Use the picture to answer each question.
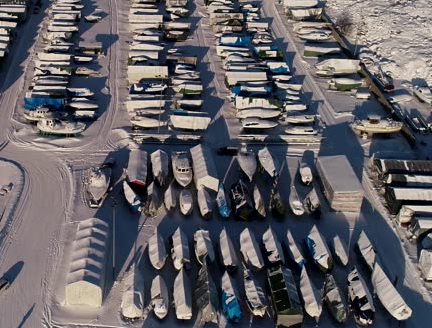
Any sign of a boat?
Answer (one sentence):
Yes, there's a boat here.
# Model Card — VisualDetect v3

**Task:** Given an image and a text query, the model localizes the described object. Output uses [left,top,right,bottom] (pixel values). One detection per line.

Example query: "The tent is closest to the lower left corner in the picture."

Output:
[66,213,109,308]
